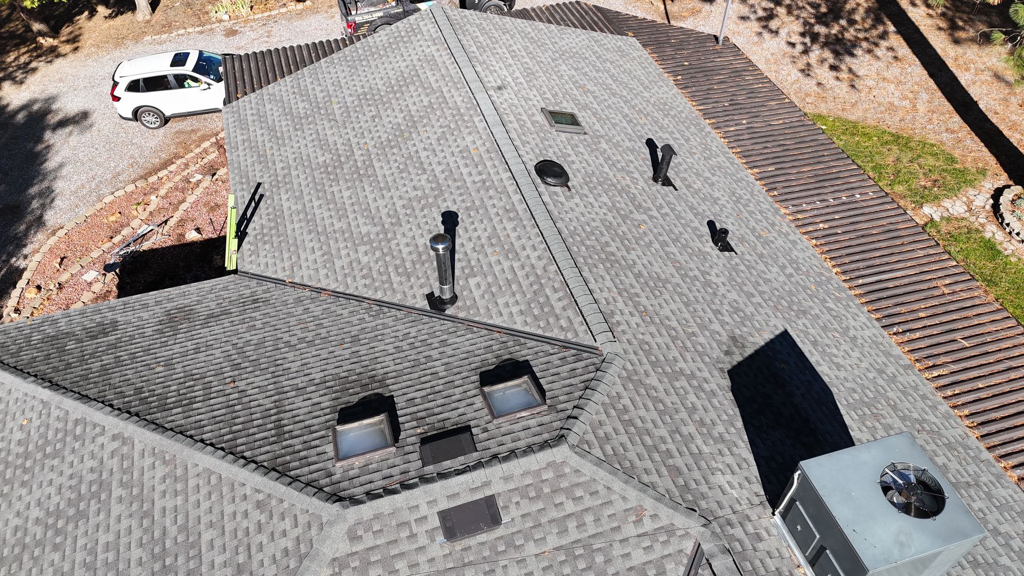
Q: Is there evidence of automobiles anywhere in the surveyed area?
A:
Yes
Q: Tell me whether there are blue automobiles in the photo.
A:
No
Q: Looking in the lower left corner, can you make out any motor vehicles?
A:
No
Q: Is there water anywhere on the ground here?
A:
No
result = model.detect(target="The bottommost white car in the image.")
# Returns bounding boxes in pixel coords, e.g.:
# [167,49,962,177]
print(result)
[109,46,226,132]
